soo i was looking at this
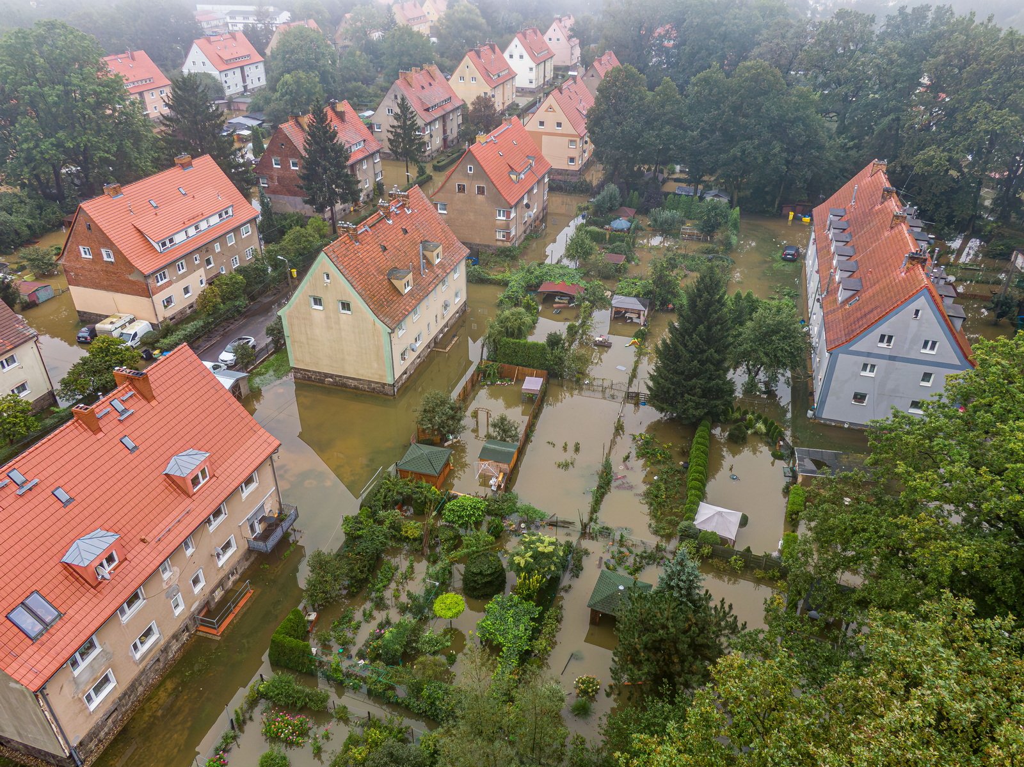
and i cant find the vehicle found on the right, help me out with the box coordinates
[783,245,802,262]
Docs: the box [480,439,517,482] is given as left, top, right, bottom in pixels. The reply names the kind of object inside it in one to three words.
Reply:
shed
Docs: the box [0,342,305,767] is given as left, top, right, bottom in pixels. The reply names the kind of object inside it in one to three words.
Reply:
house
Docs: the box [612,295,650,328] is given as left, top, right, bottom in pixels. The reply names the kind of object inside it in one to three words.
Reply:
gazebo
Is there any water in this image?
Yes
